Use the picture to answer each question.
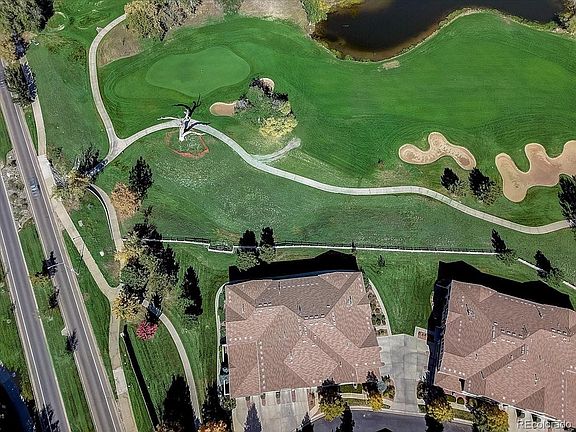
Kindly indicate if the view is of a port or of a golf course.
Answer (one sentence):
This looks like a golf course.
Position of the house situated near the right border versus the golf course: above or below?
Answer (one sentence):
Relative to the golf course, the house situated near the right border lies below it.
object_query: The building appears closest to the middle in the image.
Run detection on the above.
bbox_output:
[222,272,382,395]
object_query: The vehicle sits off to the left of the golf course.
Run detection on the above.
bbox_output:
[28,178,42,196]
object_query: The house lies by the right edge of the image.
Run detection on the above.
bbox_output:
[431,280,576,421]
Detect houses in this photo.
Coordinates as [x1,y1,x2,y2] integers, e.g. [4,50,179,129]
[222,272,382,395]
[431,280,576,421]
